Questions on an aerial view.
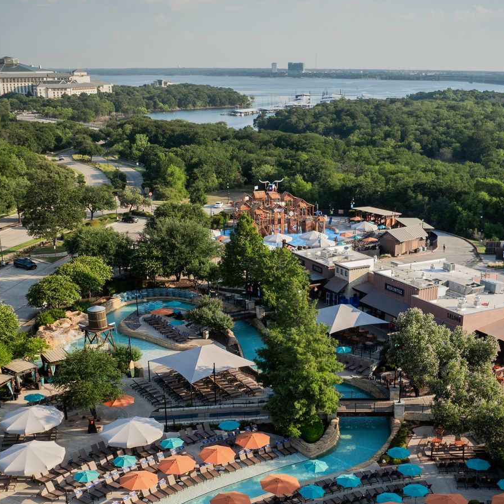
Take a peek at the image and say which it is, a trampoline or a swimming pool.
swimming pool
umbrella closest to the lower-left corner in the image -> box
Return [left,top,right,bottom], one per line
[0,447,65,501]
